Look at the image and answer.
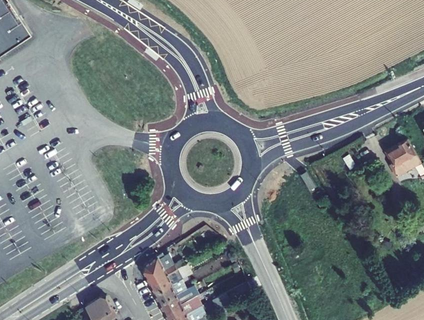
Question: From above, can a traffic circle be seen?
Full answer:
Yes, the frame does contain a traffic circle.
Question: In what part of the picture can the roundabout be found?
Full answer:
Look in the center portion of the view to spot the roundabout.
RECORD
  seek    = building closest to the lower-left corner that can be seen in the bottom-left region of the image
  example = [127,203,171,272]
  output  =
[83,298,112,320]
